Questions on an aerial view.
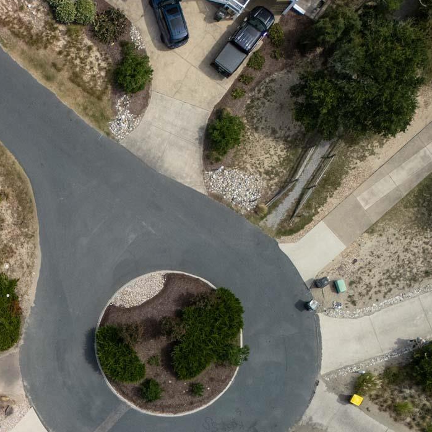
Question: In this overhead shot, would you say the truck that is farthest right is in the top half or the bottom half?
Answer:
top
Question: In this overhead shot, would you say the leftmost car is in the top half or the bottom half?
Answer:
top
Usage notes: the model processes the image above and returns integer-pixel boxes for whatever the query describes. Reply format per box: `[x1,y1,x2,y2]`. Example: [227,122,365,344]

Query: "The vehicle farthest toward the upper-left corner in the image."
[149,0,188,53]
